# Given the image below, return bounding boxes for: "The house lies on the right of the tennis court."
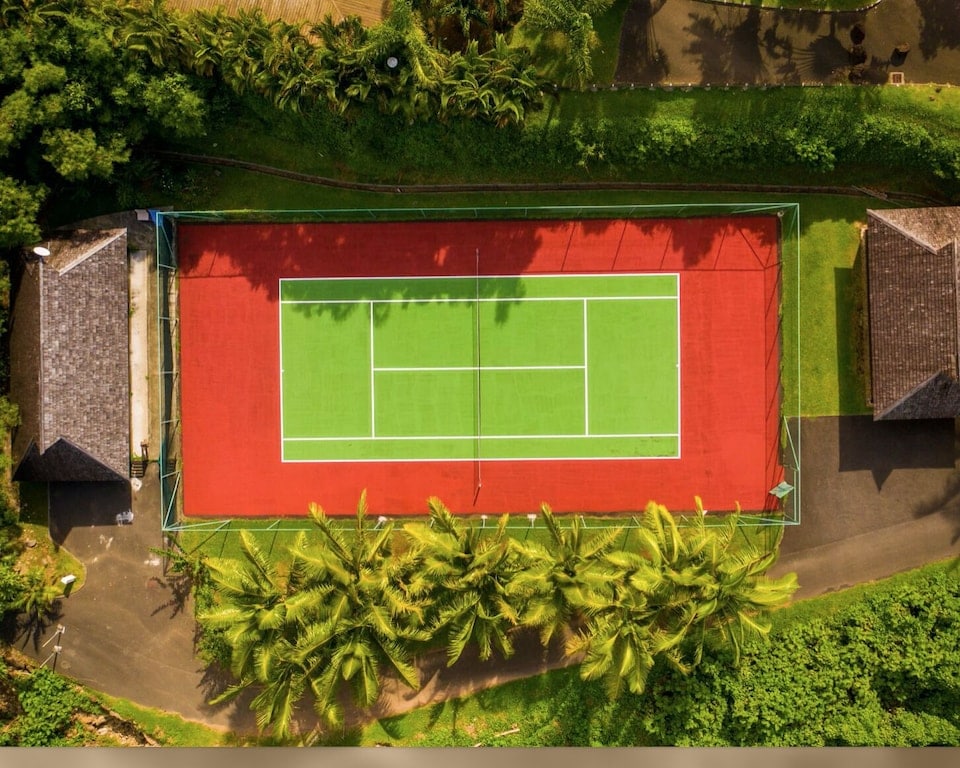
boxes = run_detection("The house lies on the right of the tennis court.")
[860,205,960,423]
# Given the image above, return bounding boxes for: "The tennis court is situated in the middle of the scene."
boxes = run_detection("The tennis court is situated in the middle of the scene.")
[174,212,786,520]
